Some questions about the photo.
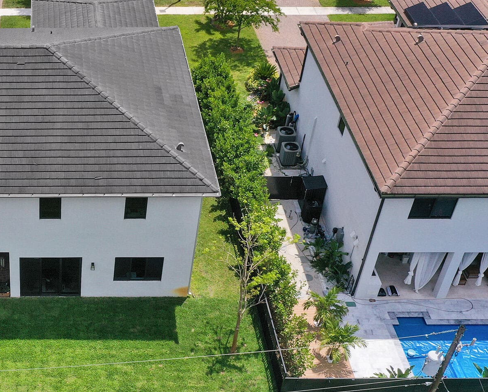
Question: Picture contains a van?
No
